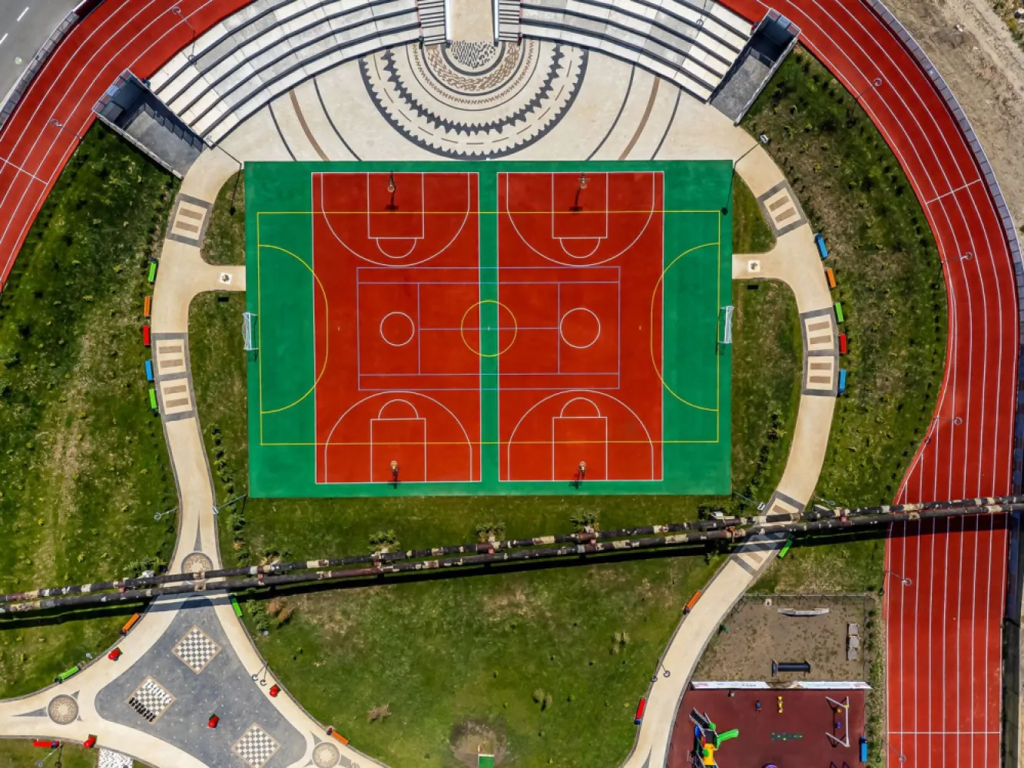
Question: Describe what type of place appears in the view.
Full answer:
It's a sports ground.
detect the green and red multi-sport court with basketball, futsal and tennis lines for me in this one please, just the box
[244,160,732,498]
